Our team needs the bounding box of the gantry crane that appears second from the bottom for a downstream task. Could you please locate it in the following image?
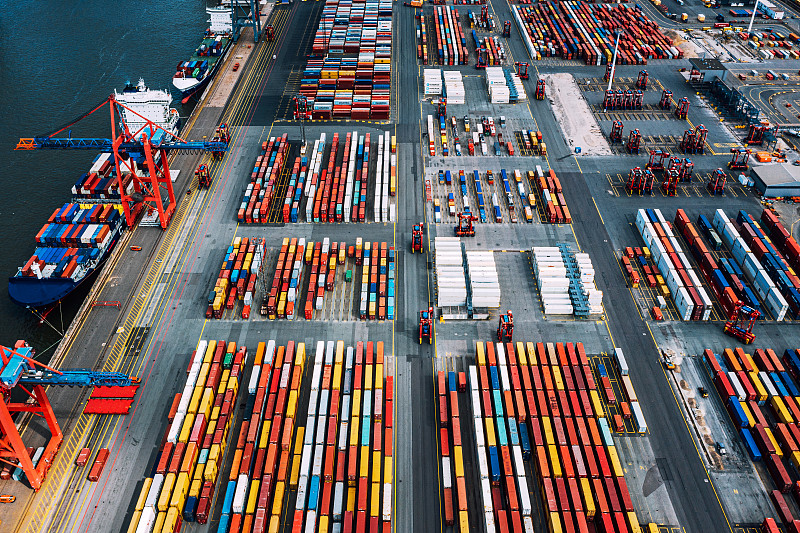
[10,91,230,230]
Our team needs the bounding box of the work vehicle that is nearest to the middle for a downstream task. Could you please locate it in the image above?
[412,219,425,252]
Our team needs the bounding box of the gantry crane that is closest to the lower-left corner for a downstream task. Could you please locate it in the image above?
[0,341,134,492]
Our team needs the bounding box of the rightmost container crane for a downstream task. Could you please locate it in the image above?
[227,0,262,42]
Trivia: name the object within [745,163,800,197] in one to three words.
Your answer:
shed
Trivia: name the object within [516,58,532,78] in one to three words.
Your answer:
work vehicle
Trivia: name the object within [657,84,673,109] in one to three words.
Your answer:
work vehicle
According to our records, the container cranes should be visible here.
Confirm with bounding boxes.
[0,341,134,492]
[227,0,262,42]
[10,91,230,230]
